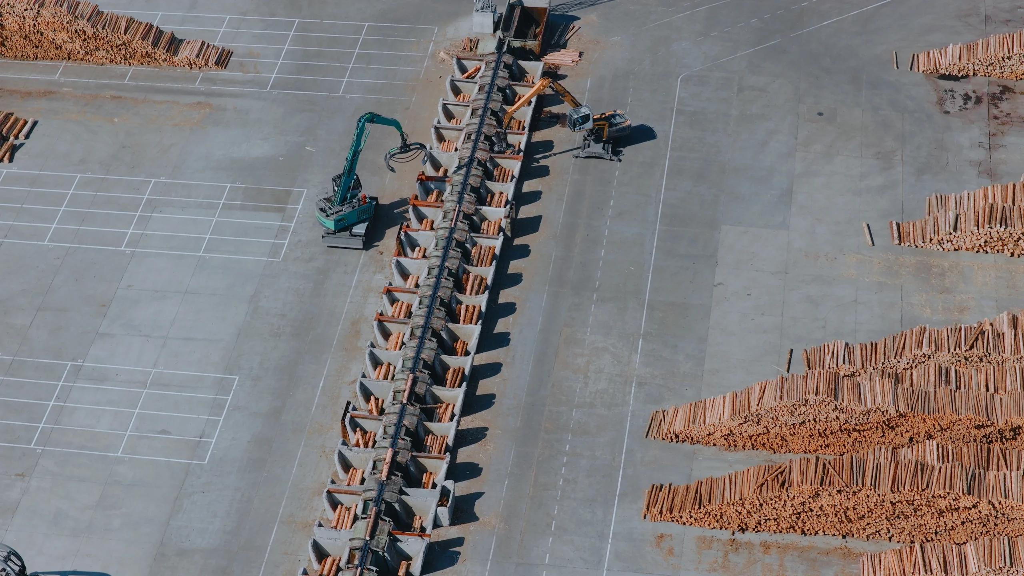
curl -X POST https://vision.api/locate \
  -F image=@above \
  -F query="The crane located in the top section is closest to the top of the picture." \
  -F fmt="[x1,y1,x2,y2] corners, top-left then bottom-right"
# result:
[493,72,634,160]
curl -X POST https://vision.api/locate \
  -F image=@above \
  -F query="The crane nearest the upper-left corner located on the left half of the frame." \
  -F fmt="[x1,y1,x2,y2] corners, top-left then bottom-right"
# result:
[318,108,430,250]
